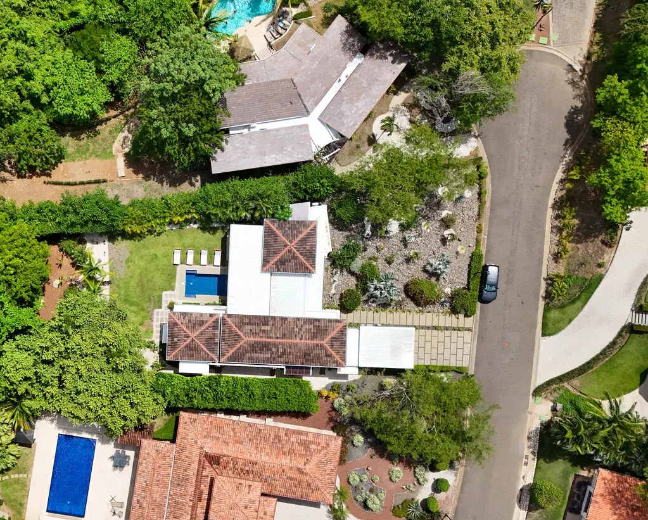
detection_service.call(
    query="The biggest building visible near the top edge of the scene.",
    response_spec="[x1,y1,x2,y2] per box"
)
[208,14,411,174]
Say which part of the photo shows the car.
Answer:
right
